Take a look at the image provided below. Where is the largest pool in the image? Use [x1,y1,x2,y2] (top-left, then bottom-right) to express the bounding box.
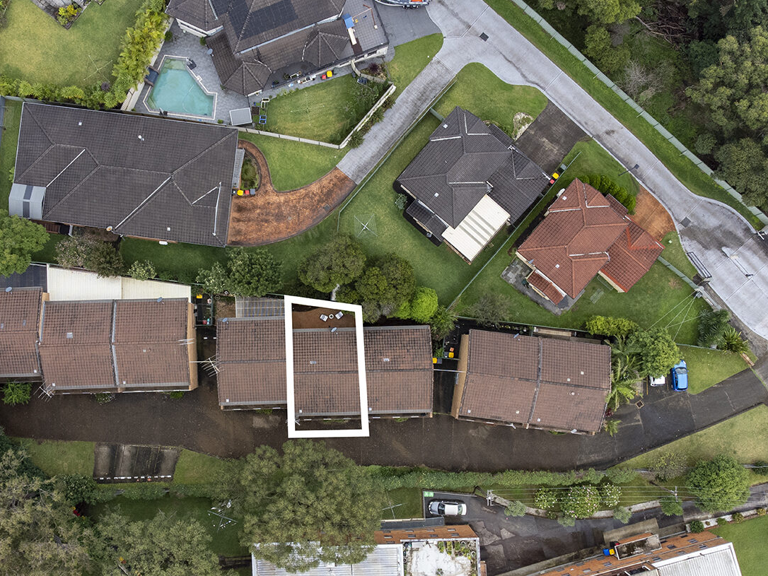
[141,54,218,119]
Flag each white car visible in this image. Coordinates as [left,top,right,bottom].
[427,500,466,516]
[648,360,666,389]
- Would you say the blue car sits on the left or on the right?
right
